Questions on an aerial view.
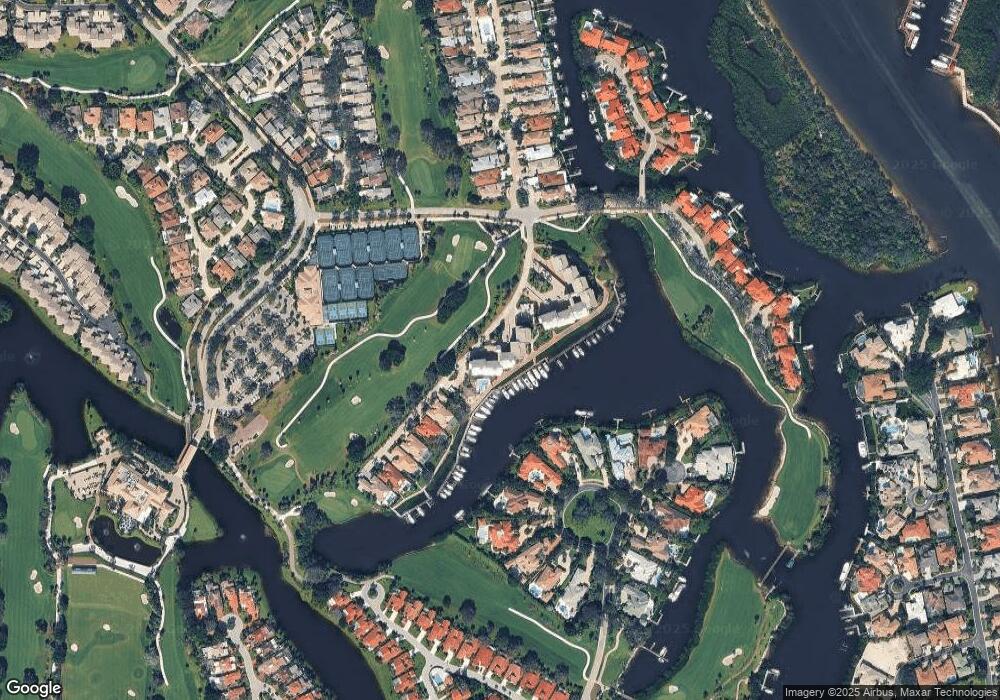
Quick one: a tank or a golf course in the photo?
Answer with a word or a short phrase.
golf course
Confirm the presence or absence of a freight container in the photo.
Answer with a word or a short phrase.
No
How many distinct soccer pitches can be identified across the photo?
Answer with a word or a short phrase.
0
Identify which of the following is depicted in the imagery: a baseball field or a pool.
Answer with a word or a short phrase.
pool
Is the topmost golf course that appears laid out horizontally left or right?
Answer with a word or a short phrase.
left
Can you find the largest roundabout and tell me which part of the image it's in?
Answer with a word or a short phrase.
bottom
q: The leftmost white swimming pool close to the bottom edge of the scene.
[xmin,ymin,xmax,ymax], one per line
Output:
[430,668,447,692]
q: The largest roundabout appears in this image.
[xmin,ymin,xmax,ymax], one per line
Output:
[558,479,626,547]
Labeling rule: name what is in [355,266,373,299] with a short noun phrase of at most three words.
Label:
tennis court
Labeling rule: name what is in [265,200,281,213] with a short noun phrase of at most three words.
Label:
swimming pool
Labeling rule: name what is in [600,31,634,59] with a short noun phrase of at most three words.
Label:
house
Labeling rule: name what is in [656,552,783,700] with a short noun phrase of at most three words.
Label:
golf course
